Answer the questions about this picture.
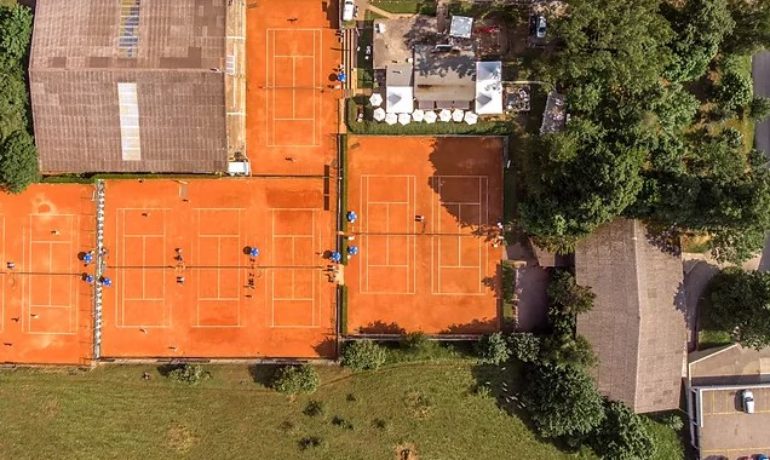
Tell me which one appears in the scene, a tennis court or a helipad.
tennis court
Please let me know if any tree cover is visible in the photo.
Yes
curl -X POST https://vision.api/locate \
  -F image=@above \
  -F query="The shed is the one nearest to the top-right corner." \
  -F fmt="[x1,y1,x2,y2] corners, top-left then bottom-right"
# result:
[539,93,567,135]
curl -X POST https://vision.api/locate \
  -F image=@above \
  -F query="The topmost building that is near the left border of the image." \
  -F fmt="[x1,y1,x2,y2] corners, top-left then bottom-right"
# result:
[29,0,233,176]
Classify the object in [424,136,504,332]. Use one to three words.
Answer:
tennis court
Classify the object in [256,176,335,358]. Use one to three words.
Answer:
tennis court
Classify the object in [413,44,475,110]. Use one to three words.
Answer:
building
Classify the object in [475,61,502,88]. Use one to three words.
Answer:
tent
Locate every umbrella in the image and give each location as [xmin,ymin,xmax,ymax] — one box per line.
[452,110,464,121]
[250,247,259,257]
[423,110,435,123]
[338,72,348,83]
[86,274,97,283]
[331,251,341,262]
[349,245,359,255]
[399,113,411,125]
[385,113,397,126]
[374,108,386,121]
[347,211,358,222]
[369,92,381,106]
[464,112,477,123]
[412,110,423,122]
[83,253,95,263]
[440,109,452,123]
[102,277,114,286]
